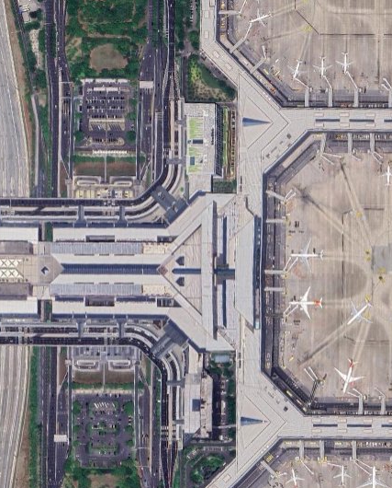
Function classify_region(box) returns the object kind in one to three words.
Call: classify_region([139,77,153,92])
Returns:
toll station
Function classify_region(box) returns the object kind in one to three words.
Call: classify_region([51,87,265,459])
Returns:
building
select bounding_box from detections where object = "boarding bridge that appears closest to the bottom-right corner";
[353,439,373,476]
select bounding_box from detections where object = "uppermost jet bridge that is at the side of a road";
[220,0,247,14]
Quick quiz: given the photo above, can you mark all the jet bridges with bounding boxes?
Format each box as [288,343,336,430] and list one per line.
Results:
[220,0,247,14]
[250,45,267,73]
[374,387,386,415]
[231,21,253,52]
[370,132,384,165]
[265,256,299,273]
[347,388,363,415]
[267,189,297,202]
[320,132,342,165]
[266,304,300,317]
[262,461,288,476]
[346,71,358,107]
[348,132,362,161]
[320,439,343,468]
[323,75,333,107]
[381,78,392,107]
[353,439,373,476]
[300,439,315,475]
[294,77,309,107]
[304,367,319,406]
